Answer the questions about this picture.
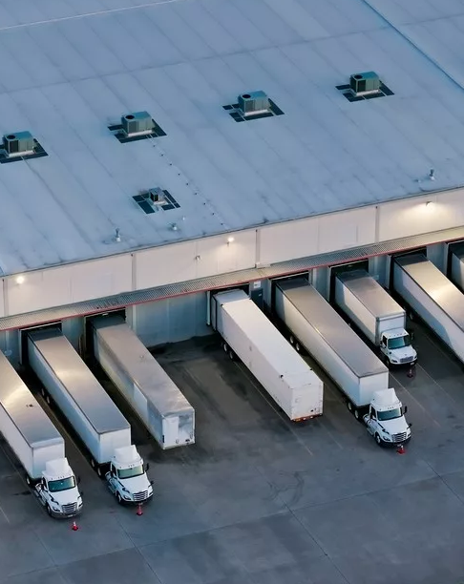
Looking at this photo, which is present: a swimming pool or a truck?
truck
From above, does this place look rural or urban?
urban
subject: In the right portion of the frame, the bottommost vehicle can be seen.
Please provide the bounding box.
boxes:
[341,388,410,449]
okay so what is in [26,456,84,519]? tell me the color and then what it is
white truck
